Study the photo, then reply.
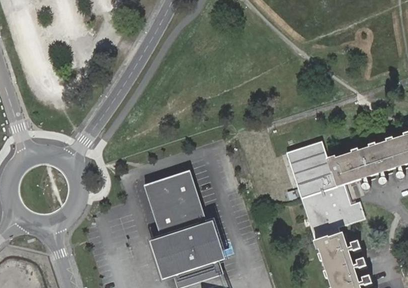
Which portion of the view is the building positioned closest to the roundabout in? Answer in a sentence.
The building positioned closest to the roundabout appears toward the bottom of the photo.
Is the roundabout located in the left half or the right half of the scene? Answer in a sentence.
You can find the roundabout on the left side of the picture.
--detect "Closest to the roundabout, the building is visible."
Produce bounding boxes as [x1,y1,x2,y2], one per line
[144,170,228,288]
